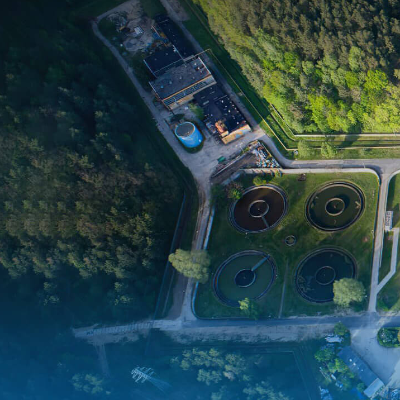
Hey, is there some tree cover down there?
Yes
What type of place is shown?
industrial area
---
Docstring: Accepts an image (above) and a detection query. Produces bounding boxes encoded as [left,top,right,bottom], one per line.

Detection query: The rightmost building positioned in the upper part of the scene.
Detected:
[194,84,252,143]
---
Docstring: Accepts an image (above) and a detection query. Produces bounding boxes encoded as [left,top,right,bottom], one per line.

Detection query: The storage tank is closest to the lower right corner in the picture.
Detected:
[294,247,356,305]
